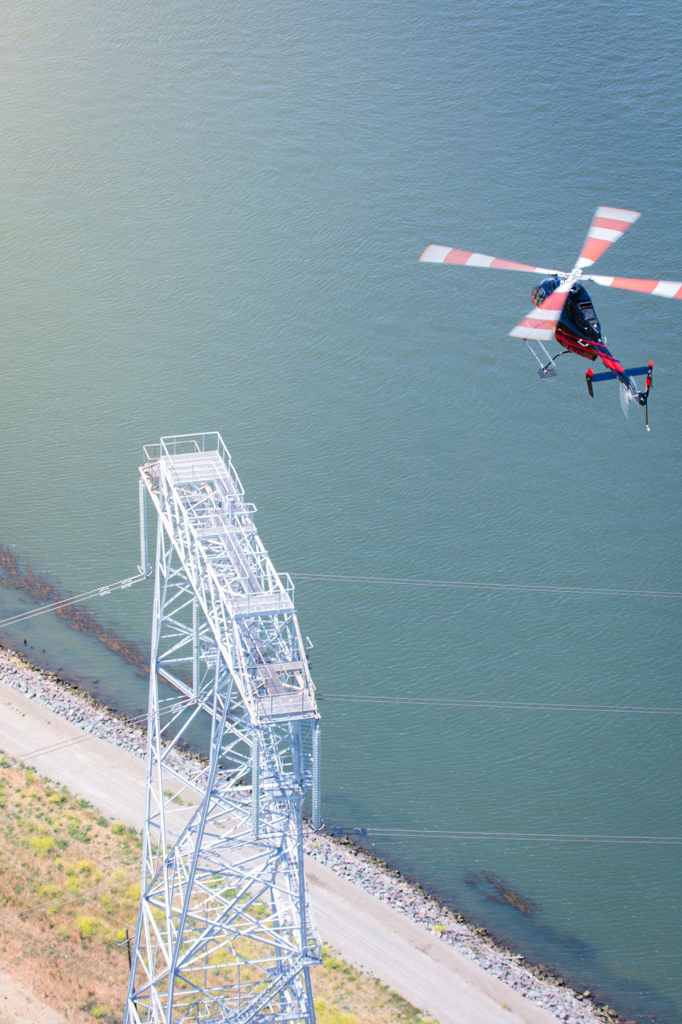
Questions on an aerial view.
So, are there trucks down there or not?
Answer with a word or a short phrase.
No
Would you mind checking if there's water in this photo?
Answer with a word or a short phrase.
Yes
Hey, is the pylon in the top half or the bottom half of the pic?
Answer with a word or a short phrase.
bottom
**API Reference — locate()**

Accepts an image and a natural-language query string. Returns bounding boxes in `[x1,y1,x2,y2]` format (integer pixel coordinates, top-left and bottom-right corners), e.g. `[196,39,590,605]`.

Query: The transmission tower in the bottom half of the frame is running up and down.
[119,431,325,1024]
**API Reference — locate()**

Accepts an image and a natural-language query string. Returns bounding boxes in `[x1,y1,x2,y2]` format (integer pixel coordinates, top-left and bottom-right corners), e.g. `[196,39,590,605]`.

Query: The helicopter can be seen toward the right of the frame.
[422,207,682,437]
